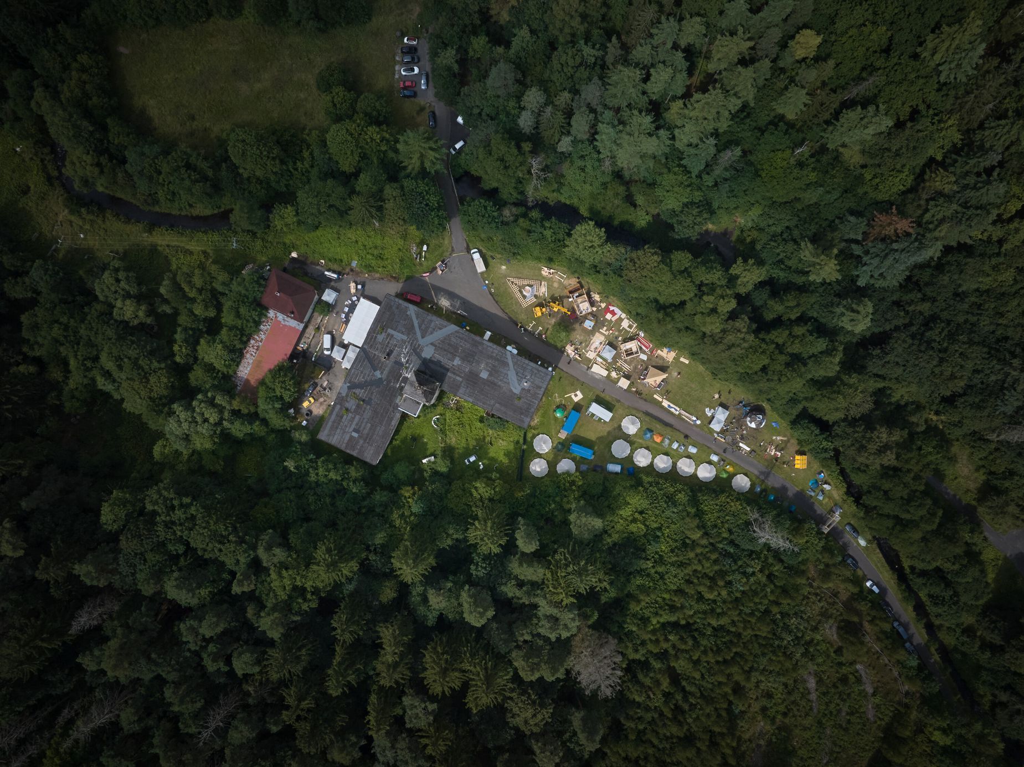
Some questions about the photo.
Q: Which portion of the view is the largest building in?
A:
center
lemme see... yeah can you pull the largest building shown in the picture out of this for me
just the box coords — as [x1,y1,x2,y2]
[317,293,553,465]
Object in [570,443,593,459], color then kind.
blue gazebo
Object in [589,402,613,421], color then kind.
white gazebo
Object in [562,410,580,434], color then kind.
blue gazebo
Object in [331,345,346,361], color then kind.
white gazebo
